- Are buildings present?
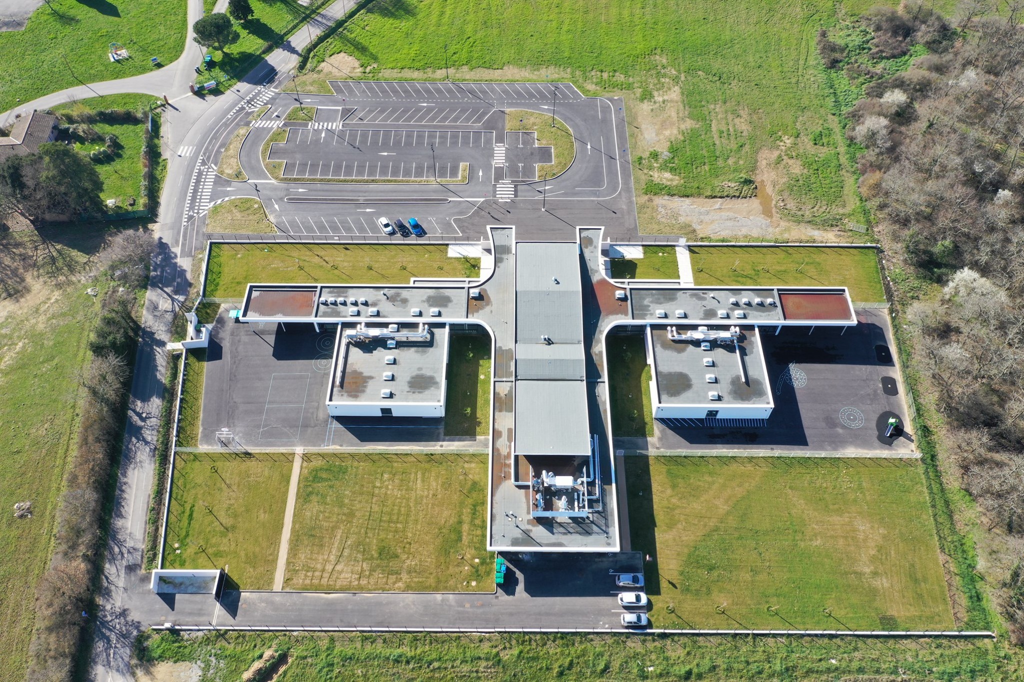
Yes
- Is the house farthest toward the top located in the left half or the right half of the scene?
left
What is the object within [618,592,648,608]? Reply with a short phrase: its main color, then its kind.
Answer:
white car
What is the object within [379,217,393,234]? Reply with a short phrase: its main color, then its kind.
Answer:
white car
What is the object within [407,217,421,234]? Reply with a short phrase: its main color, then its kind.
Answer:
blue car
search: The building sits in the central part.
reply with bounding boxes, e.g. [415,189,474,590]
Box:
[240,226,857,557]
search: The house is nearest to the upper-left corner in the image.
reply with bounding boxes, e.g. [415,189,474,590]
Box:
[0,110,61,163]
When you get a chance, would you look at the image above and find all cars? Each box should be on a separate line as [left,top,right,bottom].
[393,219,407,236]
[616,573,643,589]
[618,592,648,608]
[407,217,421,234]
[379,217,393,234]
[621,613,648,628]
